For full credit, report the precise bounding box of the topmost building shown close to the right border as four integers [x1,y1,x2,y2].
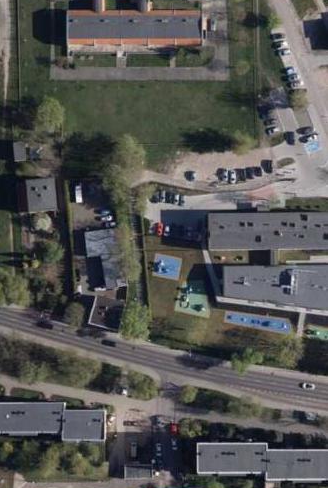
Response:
[209,202,328,250]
